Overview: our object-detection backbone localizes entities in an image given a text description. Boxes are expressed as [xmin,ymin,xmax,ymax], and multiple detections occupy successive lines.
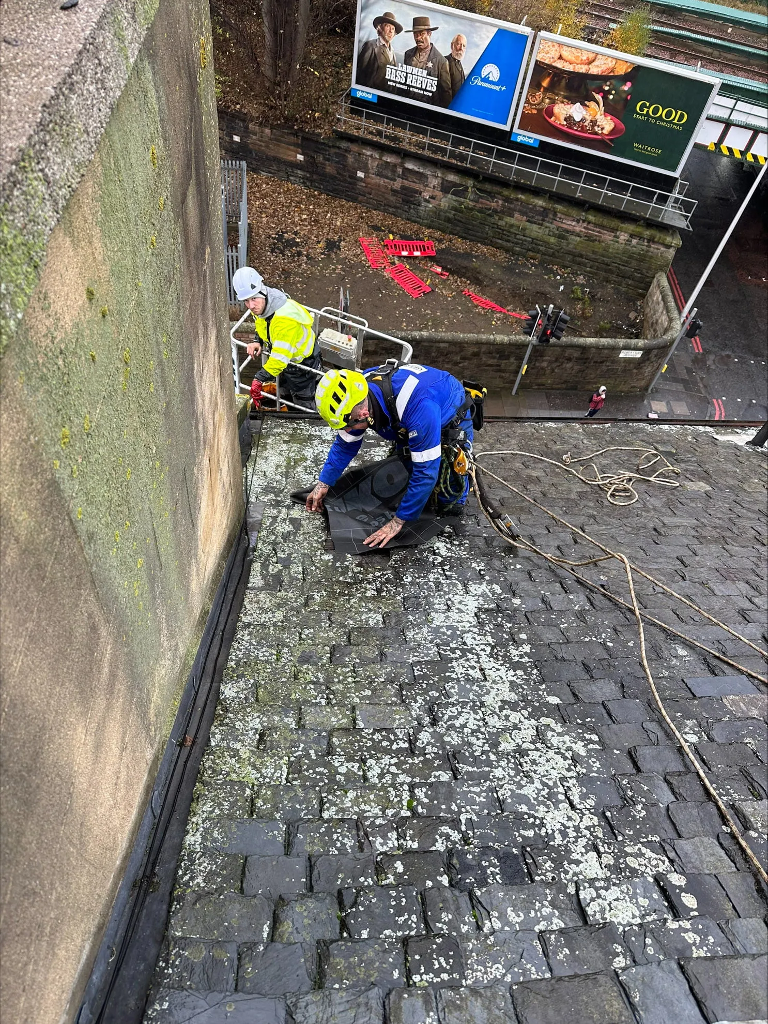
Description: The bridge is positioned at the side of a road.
[527,0,768,277]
